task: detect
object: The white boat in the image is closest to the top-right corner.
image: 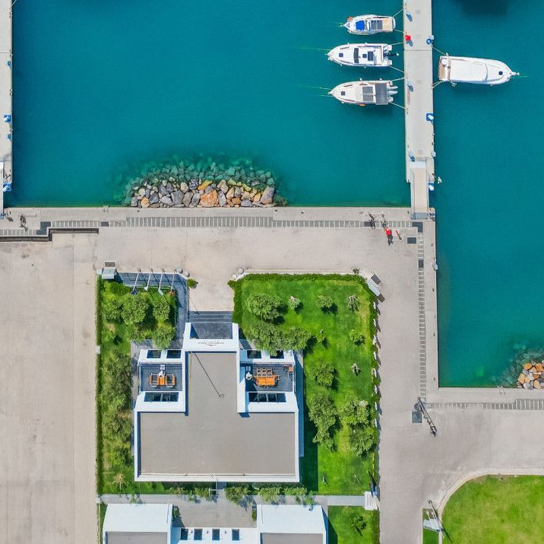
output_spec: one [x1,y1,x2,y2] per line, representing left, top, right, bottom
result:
[434,49,542,87]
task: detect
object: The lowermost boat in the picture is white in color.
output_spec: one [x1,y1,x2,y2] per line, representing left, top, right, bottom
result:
[272,74,401,109]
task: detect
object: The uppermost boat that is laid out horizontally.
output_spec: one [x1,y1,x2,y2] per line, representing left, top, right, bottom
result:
[290,12,403,36]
